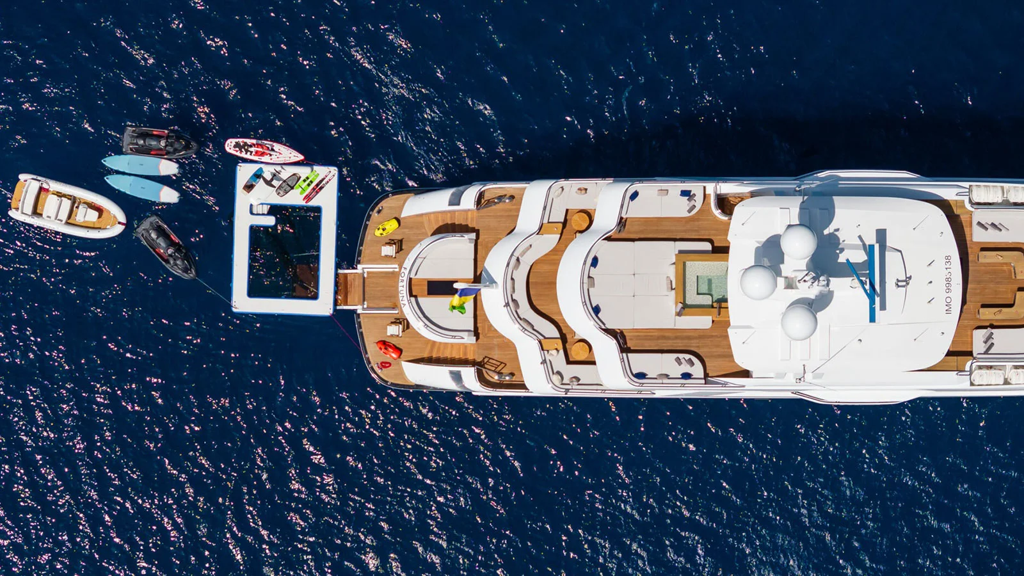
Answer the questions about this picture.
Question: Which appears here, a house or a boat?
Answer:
boat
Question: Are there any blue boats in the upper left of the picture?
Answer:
No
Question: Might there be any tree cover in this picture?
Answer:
No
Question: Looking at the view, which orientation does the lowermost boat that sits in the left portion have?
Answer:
at an angle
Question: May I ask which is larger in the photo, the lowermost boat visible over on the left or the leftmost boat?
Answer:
the leftmost boat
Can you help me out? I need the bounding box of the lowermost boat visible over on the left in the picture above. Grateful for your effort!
[136,215,197,280]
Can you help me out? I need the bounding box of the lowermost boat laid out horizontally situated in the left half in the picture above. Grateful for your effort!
[6,171,125,238]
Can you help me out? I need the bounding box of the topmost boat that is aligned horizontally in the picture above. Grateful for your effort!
[121,127,198,158]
